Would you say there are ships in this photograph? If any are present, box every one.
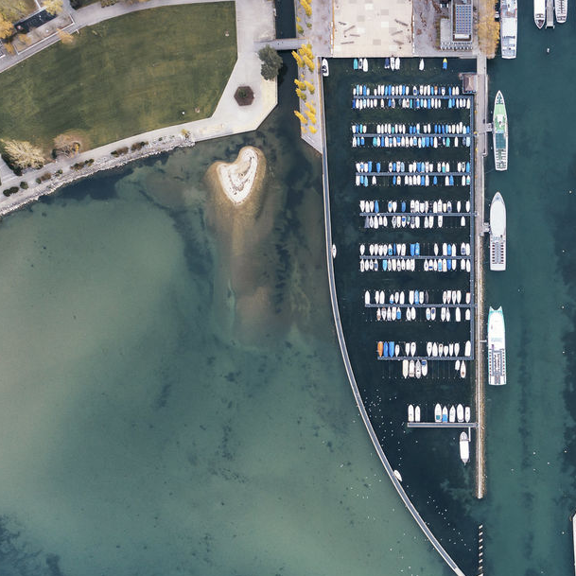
[555,0,567,22]
[491,192,506,270]
[501,0,517,58]
[494,91,508,170]
[488,306,506,386]
[534,0,545,29]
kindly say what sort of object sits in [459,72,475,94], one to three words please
shed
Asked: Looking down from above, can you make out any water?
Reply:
Yes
